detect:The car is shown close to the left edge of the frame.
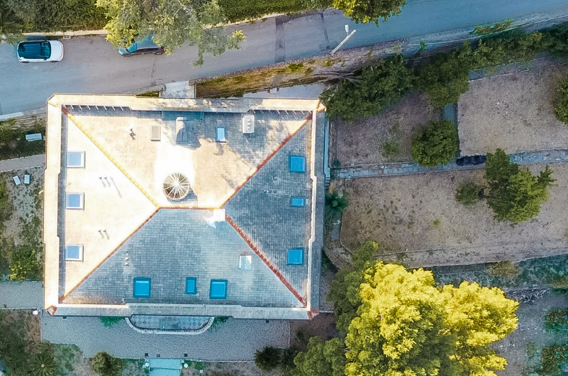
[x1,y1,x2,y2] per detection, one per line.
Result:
[18,39,62,63]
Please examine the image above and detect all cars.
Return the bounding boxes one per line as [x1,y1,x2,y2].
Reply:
[18,39,62,63]
[117,44,160,58]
